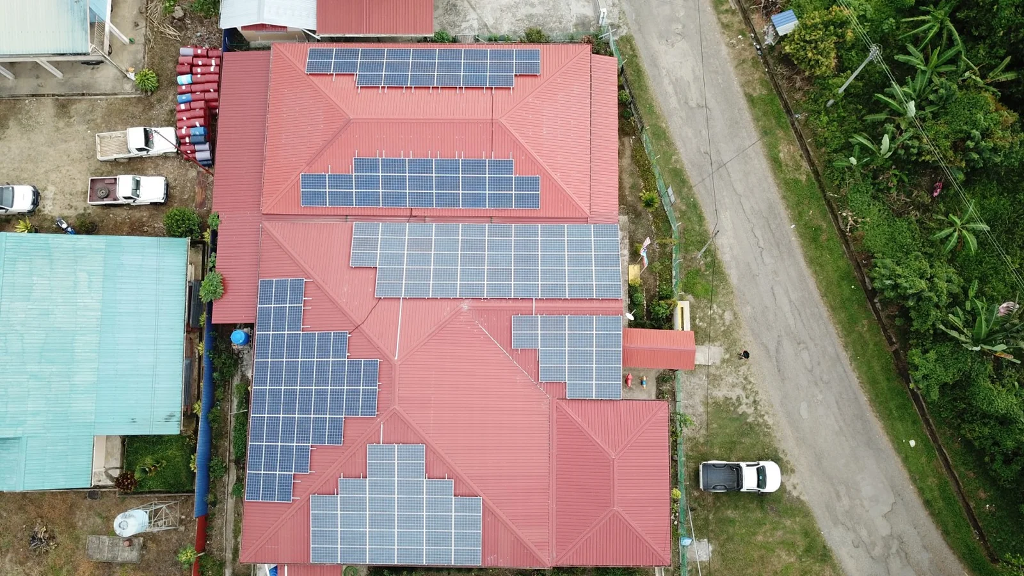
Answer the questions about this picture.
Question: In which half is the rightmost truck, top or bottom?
bottom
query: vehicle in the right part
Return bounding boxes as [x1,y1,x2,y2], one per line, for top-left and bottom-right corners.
[698,460,782,495]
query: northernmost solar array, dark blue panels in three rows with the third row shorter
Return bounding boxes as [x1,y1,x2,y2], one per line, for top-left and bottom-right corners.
[304,45,540,96]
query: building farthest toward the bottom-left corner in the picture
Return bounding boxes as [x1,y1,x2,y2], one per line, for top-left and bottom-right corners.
[0,232,201,492]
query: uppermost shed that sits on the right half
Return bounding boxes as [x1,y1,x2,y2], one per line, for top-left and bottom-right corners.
[767,3,799,40]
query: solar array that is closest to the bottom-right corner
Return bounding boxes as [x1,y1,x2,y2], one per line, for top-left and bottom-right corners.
[512,314,621,400]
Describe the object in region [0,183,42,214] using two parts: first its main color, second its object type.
white truck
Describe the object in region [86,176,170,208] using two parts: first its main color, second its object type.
white truck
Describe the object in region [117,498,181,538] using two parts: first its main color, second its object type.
white water tower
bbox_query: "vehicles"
[51,214,72,235]
[86,176,170,208]
[0,183,42,214]
[97,127,179,162]
[698,460,782,495]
